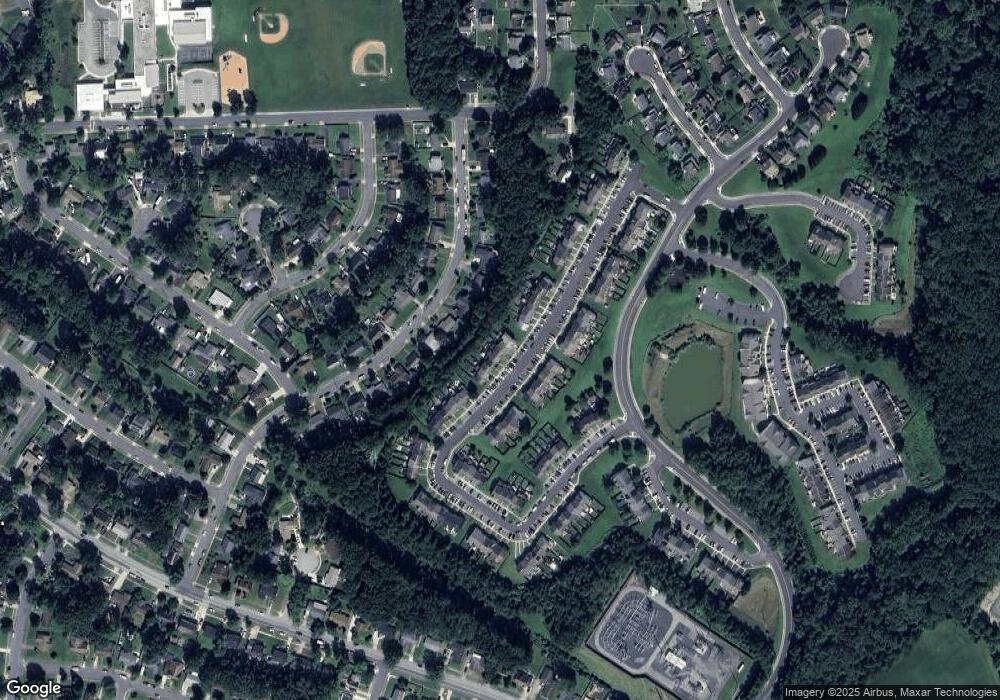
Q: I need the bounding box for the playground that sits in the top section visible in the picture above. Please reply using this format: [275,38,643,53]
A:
[219,51,249,105]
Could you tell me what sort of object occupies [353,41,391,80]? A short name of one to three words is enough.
baseball field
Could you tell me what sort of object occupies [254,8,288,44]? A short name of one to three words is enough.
baseball field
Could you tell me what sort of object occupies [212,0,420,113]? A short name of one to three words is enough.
sports field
